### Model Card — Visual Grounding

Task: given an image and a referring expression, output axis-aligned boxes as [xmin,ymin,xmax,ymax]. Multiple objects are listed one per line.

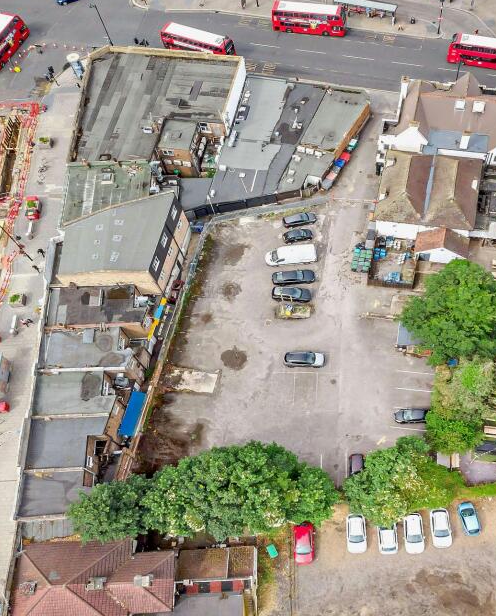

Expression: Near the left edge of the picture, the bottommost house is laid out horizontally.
[9,537,185,616]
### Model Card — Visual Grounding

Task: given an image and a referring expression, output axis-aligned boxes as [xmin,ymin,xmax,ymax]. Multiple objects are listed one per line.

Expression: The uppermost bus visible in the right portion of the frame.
[274,0,343,39]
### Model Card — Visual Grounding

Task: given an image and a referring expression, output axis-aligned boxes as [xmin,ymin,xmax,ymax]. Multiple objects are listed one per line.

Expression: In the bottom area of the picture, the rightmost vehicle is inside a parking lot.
[457,501,480,537]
